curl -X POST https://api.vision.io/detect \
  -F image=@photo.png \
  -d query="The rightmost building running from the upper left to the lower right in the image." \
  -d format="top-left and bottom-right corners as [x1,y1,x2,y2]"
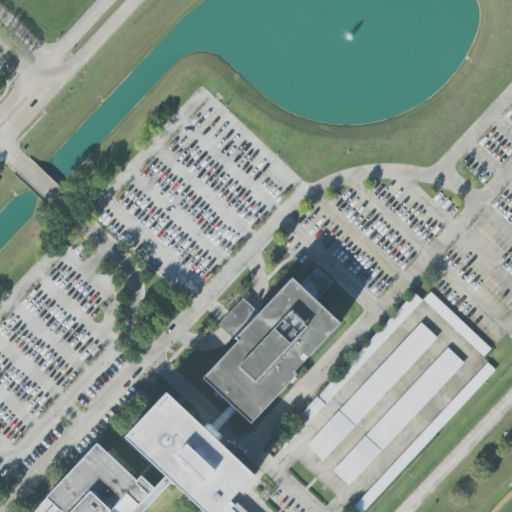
[424,292,492,356]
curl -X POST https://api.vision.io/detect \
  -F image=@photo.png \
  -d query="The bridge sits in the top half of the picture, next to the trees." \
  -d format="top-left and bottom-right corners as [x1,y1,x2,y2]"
[4,150,60,202]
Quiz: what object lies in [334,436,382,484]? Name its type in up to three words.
building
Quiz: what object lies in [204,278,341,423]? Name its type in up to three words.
building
